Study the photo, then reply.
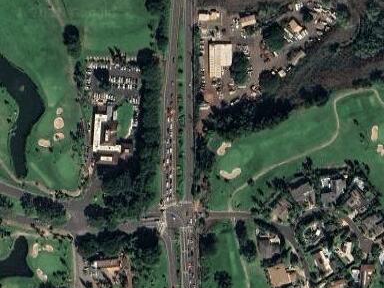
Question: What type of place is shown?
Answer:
golf course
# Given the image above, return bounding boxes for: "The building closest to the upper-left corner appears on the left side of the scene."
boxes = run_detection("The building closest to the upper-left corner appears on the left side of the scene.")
[93,105,118,151]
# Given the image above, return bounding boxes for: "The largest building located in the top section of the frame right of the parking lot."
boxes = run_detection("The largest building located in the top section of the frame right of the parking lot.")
[208,43,233,78]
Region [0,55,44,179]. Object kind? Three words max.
pond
